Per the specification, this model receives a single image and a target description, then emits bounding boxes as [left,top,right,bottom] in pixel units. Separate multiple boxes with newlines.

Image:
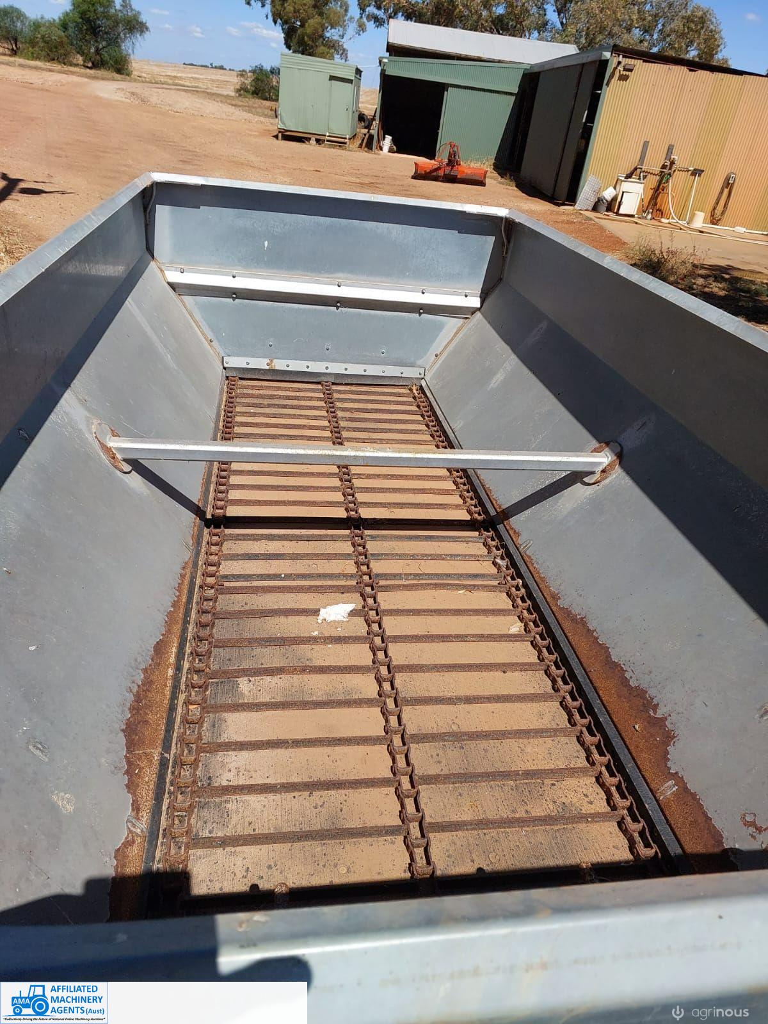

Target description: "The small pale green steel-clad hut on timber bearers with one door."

[277,52,365,148]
